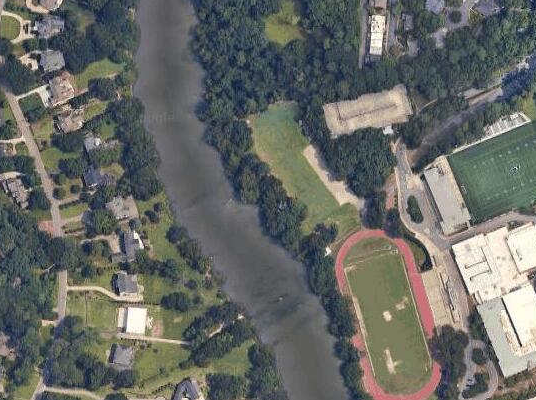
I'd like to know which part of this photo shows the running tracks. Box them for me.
[337,228,442,400]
